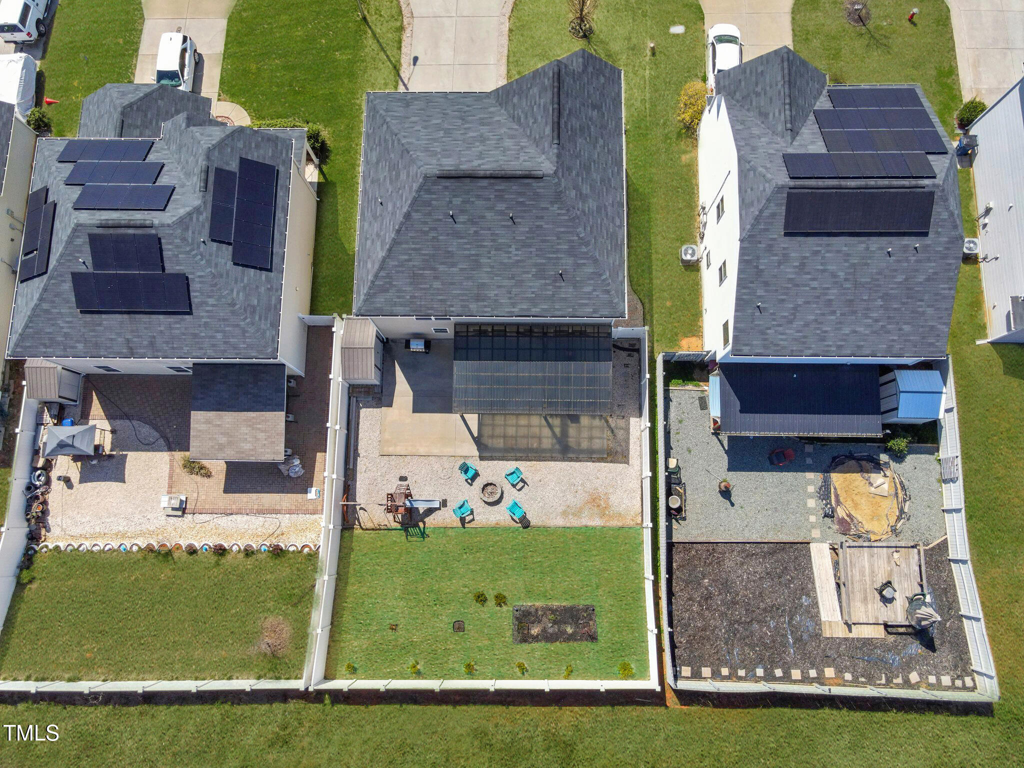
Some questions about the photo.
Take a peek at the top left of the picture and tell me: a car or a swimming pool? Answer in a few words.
car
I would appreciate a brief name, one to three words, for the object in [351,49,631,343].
house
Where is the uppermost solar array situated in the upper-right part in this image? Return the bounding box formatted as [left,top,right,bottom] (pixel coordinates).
[782,88,948,177]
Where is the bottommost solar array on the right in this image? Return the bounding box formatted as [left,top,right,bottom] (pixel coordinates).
[784,190,934,231]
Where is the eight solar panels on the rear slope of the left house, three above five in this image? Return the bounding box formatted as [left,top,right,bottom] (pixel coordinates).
[71,234,190,311]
